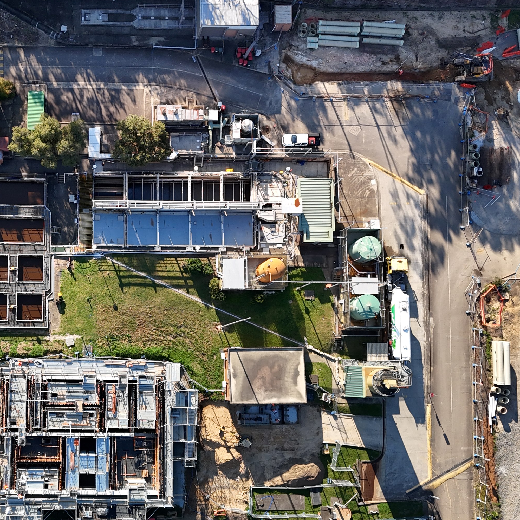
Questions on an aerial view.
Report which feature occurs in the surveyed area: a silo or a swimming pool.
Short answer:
silo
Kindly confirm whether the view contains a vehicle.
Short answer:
Yes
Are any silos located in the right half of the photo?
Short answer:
Yes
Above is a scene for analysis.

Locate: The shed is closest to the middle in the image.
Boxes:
[216,257,248,291]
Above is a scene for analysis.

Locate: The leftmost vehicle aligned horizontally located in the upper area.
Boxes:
[283,132,319,148]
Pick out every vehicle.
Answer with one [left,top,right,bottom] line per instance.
[438,51,493,82]
[219,426,251,449]
[385,251,410,360]
[283,132,319,148]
